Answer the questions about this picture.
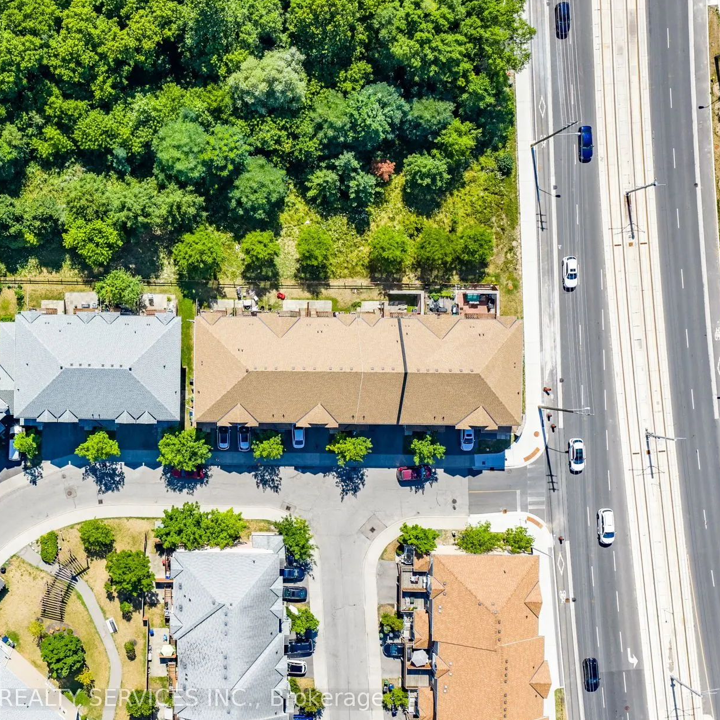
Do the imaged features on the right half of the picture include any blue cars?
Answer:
Yes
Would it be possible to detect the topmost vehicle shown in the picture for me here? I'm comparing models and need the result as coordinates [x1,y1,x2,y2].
[553,0,572,38]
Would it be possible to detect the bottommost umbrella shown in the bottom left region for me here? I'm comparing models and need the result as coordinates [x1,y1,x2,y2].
[160,642,175,658]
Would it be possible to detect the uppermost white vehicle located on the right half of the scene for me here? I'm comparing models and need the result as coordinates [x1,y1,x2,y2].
[560,254,579,289]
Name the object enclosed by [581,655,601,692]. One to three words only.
car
